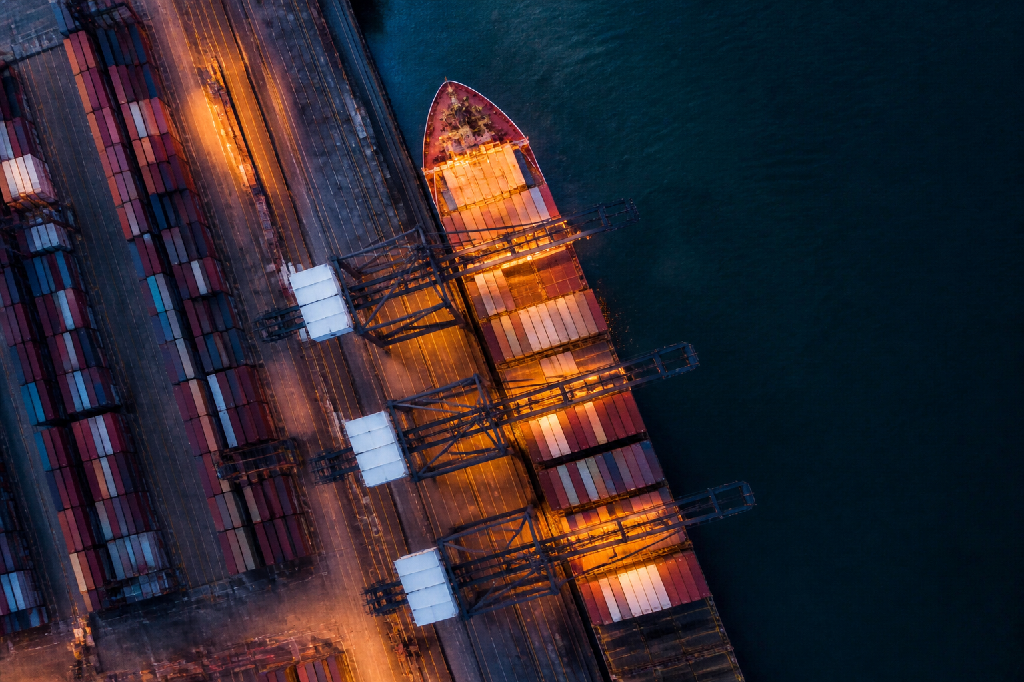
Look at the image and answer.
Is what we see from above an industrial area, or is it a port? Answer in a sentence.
The picture captures a port.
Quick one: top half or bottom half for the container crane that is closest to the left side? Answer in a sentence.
The top half of the photo is where the container crane that is closest to the left side is.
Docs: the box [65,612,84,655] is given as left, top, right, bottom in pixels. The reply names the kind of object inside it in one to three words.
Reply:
vehicle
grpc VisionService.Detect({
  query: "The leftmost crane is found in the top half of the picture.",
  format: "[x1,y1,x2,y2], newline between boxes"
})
[0,196,99,253]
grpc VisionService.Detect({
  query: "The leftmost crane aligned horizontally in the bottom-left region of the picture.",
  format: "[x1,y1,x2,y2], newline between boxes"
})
[90,556,202,612]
